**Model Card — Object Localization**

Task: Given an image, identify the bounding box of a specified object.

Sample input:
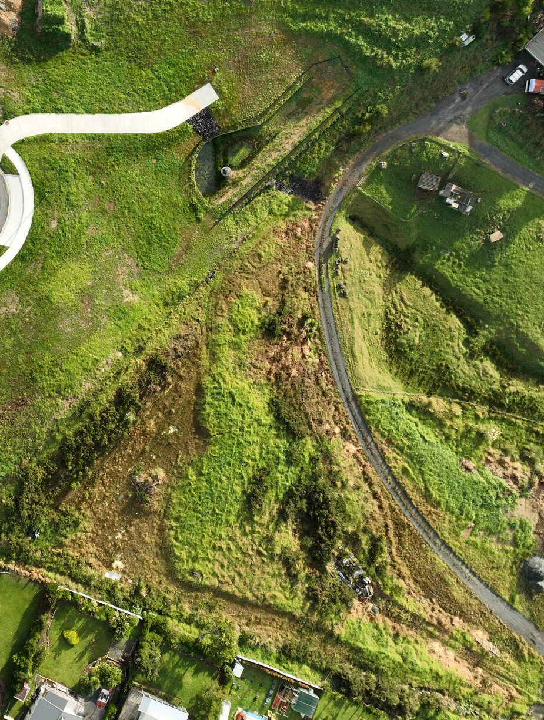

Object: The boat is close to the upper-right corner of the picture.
[457,36,475,48]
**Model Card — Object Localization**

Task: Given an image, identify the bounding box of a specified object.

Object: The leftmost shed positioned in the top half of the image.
[417,172,442,189]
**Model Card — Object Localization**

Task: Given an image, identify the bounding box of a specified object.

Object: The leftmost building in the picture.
[34,681,85,720]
